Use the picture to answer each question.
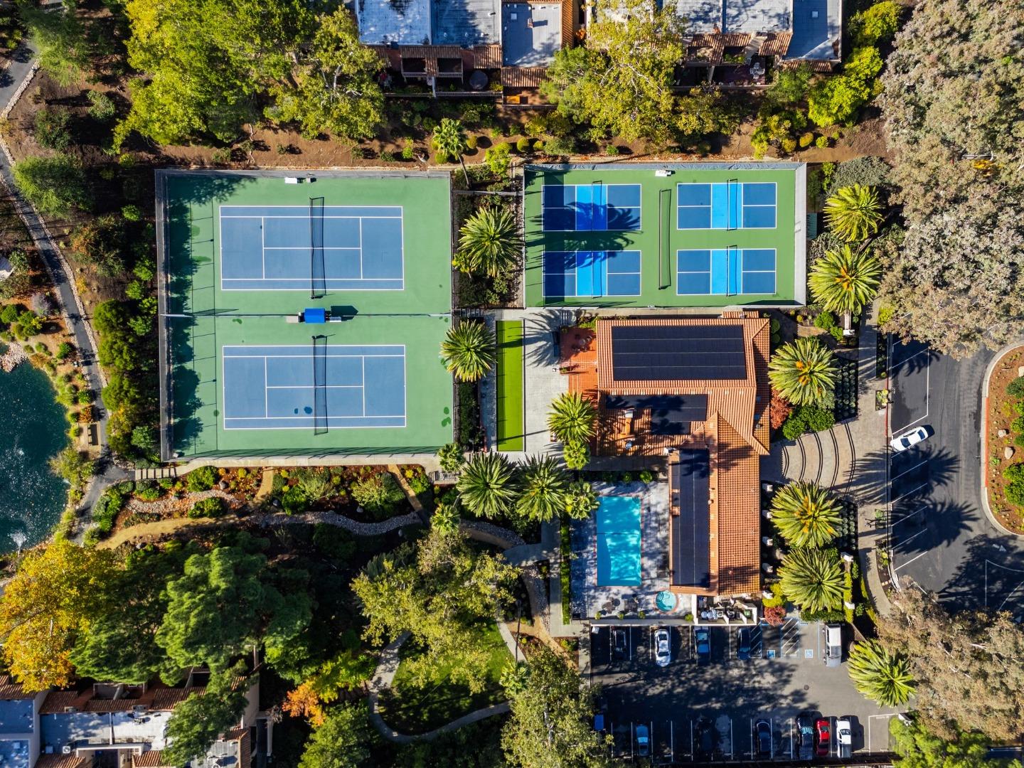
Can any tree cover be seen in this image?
Yes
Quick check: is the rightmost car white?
Yes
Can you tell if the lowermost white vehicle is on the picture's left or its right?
right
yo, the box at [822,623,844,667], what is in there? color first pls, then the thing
white vehicle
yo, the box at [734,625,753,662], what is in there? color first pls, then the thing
black car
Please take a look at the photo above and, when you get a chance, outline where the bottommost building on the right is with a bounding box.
[596,311,771,601]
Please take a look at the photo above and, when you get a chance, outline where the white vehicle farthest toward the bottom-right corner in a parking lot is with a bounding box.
[833,714,854,754]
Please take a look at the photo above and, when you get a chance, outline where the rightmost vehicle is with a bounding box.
[887,425,930,450]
